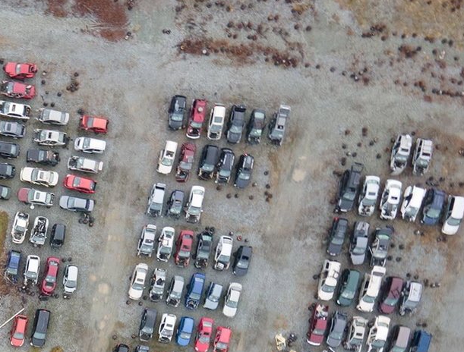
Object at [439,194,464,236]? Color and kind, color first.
white car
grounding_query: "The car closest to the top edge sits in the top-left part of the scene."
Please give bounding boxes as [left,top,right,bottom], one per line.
[1,62,38,82]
